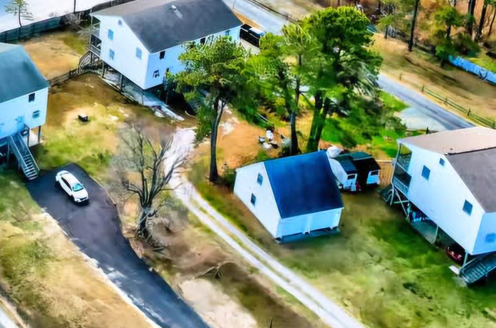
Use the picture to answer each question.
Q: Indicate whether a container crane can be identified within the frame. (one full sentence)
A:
No, I can see no container crane in this picture.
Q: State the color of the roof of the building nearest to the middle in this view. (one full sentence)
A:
From above, the roof of the building nearest to the middle looks blue.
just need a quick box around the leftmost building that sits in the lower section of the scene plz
[231,151,348,247]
